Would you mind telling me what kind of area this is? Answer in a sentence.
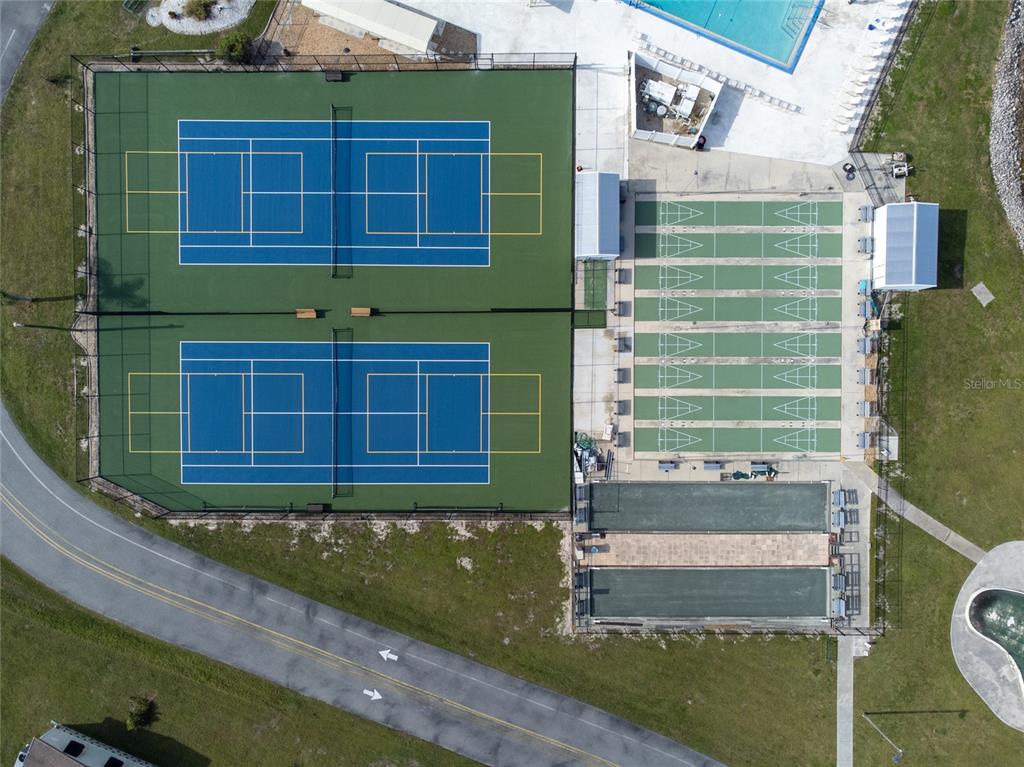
The area seen from above is a sports ground.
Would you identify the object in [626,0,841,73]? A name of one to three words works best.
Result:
swimming pool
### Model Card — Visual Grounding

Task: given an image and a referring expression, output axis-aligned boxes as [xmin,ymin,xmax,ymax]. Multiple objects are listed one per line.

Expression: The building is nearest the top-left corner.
[298,0,438,58]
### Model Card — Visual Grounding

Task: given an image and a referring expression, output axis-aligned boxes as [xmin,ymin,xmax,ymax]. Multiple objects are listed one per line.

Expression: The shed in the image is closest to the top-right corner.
[873,200,938,288]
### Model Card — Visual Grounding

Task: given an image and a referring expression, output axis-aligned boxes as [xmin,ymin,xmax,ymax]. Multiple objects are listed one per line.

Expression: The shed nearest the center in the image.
[575,170,620,260]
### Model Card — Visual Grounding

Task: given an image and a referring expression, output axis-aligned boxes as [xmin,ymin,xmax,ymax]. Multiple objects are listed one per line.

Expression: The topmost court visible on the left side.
[94,69,571,313]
